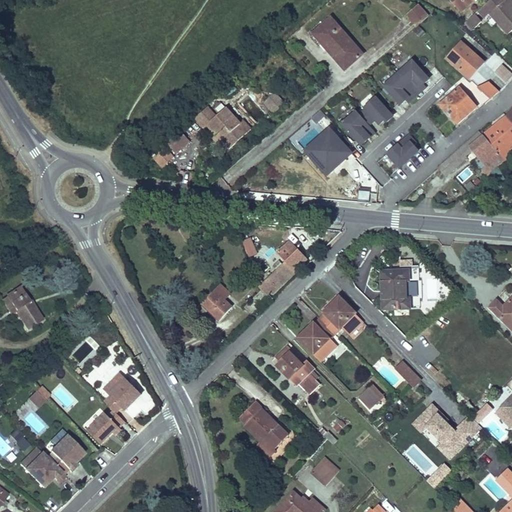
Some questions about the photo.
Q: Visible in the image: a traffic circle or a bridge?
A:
traffic circle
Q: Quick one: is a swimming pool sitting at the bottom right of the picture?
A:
Yes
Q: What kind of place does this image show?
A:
residential area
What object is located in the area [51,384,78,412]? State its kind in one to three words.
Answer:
swimming pool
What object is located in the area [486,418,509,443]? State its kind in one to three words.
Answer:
swimming pool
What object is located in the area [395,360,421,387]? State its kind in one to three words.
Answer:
building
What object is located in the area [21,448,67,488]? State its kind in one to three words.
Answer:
house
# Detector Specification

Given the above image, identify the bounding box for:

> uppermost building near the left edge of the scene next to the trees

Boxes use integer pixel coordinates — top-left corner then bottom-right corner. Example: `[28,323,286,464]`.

[4,285,45,330]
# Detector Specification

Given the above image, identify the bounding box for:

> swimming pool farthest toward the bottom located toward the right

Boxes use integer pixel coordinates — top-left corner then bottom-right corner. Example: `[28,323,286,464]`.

[479,474,510,502]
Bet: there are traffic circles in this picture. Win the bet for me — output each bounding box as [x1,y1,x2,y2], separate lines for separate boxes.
[42,156,112,226]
